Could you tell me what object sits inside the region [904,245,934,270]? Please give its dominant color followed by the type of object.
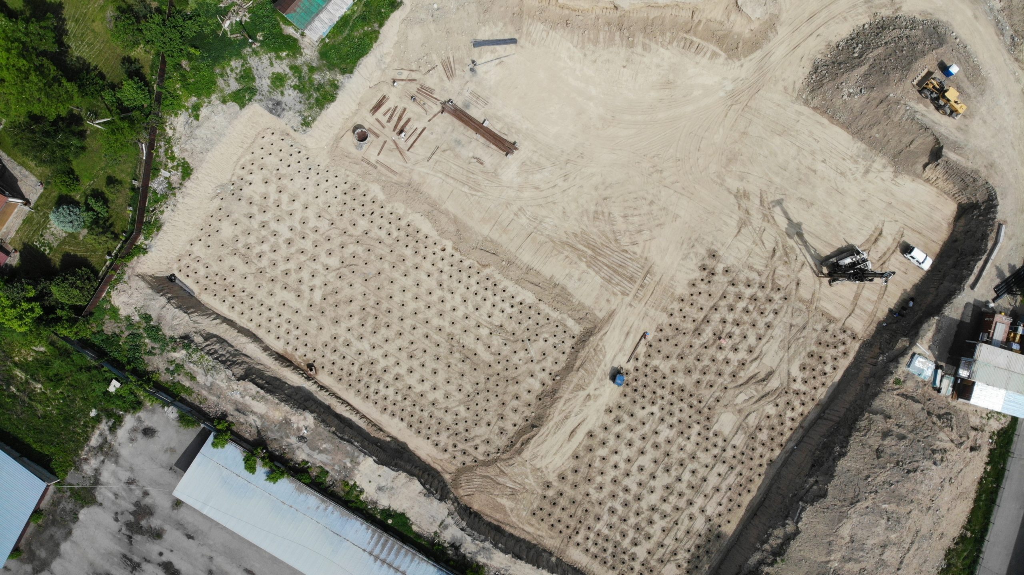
white car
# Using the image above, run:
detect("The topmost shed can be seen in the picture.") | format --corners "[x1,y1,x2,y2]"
[273,0,359,47]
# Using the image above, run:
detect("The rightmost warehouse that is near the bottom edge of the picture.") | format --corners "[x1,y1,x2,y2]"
[172,440,469,575]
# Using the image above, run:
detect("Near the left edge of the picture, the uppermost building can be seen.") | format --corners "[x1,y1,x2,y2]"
[0,189,34,231]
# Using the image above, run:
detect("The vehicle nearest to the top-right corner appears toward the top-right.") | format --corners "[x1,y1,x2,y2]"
[909,66,975,115]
